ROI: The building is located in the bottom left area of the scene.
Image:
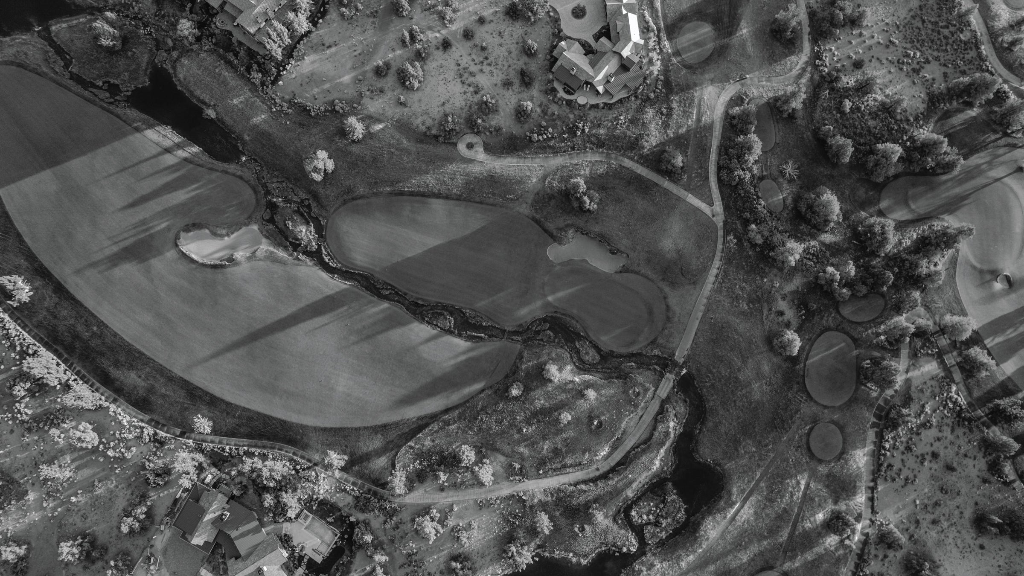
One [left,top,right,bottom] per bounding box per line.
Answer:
[172,480,296,576]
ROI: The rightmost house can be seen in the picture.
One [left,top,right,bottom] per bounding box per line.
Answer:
[552,0,645,97]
